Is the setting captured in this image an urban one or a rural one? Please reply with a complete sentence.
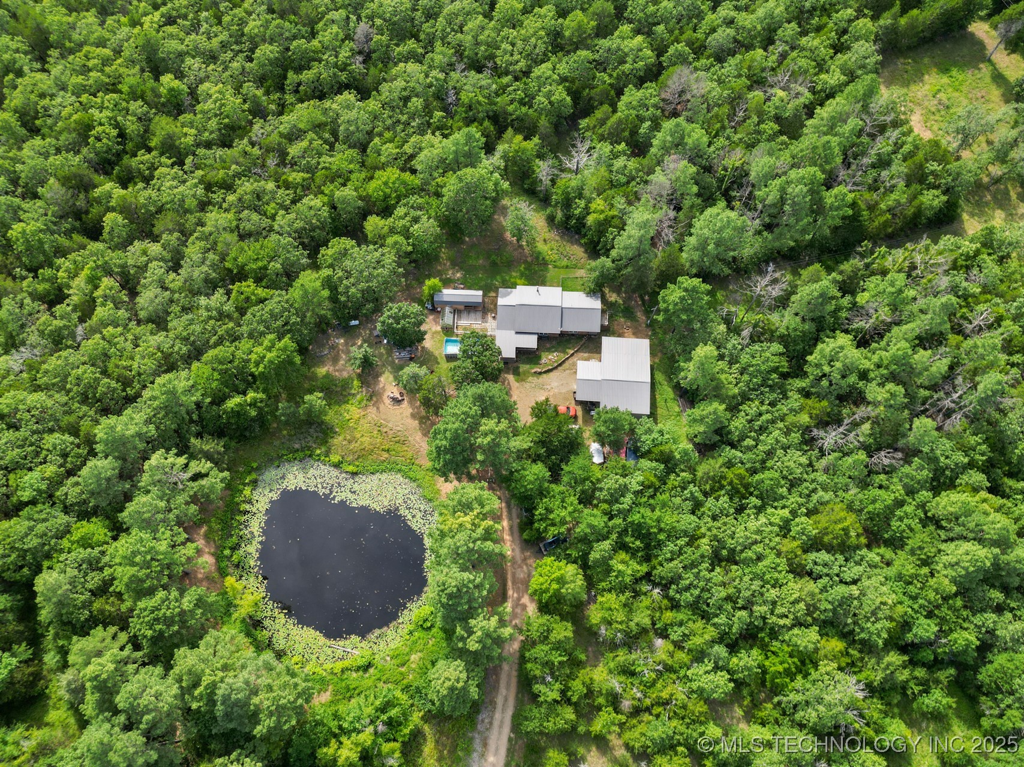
The land in this view is best described as rural.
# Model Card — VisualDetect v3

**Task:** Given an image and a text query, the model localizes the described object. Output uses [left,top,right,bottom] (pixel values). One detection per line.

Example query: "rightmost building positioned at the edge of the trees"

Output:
[576,338,651,419]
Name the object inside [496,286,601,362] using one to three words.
house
